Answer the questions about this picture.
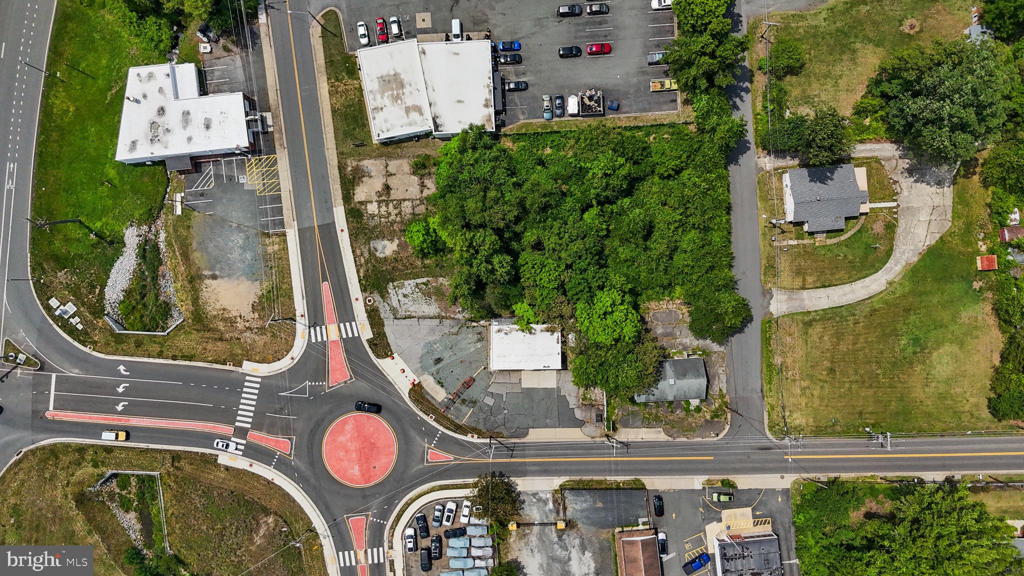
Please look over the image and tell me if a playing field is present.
No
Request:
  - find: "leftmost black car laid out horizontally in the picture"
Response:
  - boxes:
[354,401,381,414]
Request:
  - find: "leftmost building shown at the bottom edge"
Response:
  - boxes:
[613,524,660,576]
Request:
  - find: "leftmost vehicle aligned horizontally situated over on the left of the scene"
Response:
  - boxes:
[99,431,125,443]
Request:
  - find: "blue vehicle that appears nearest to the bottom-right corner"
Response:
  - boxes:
[683,554,712,576]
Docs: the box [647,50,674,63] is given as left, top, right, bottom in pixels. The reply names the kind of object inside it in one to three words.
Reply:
vehicle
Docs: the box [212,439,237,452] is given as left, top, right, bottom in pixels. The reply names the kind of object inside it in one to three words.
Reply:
vehicle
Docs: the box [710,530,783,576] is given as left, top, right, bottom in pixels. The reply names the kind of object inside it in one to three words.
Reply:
building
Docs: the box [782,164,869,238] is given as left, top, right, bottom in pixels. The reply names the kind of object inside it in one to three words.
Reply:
house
